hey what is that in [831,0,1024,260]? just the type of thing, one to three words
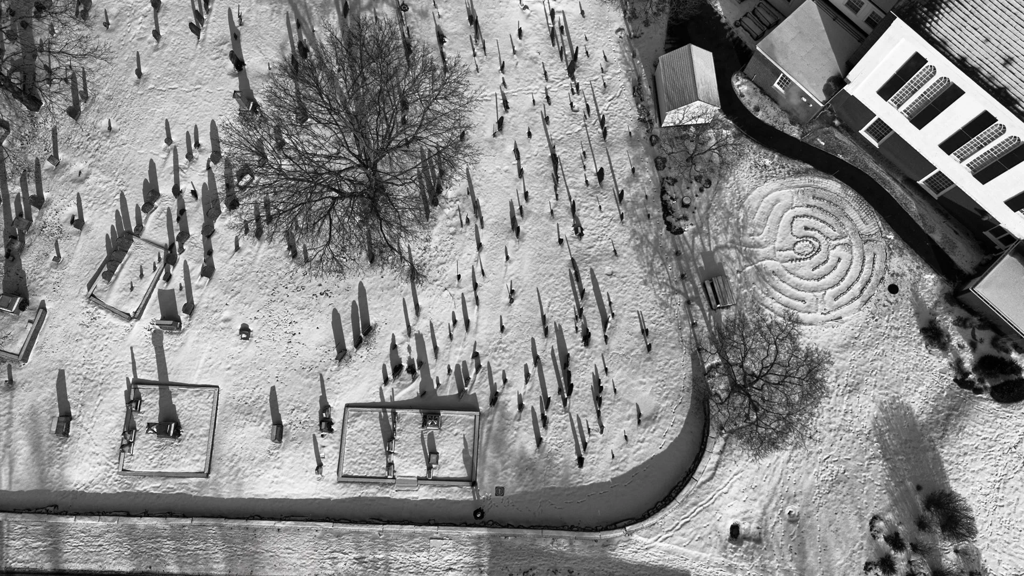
church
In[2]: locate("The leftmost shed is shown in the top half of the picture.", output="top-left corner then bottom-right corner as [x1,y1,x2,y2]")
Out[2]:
[654,42,721,127]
